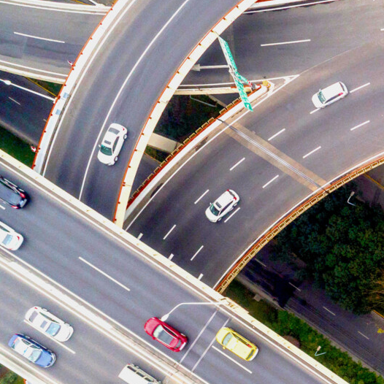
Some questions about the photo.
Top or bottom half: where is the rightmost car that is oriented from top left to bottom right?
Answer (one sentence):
It is in the bottom half that the rightmost car that is oriented from top left to bottom right appears.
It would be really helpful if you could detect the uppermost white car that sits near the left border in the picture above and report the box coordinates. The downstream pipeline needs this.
[0,216,33,255]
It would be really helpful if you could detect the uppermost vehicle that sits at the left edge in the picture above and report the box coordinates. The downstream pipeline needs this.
[0,169,34,209]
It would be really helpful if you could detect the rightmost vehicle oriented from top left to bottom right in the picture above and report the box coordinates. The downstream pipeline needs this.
[212,324,264,366]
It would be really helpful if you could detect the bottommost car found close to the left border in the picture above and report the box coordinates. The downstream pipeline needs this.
[2,328,63,370]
